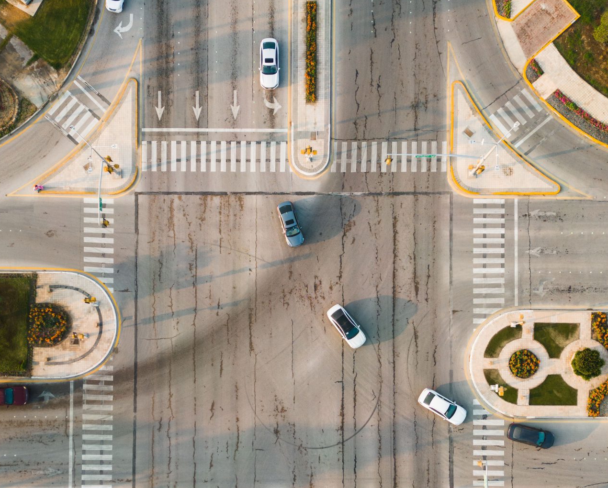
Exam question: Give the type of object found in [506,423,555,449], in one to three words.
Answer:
car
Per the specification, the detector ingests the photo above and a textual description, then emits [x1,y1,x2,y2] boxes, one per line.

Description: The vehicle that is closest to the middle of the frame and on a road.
[276,200,305,249]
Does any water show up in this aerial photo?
No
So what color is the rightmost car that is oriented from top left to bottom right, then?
white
